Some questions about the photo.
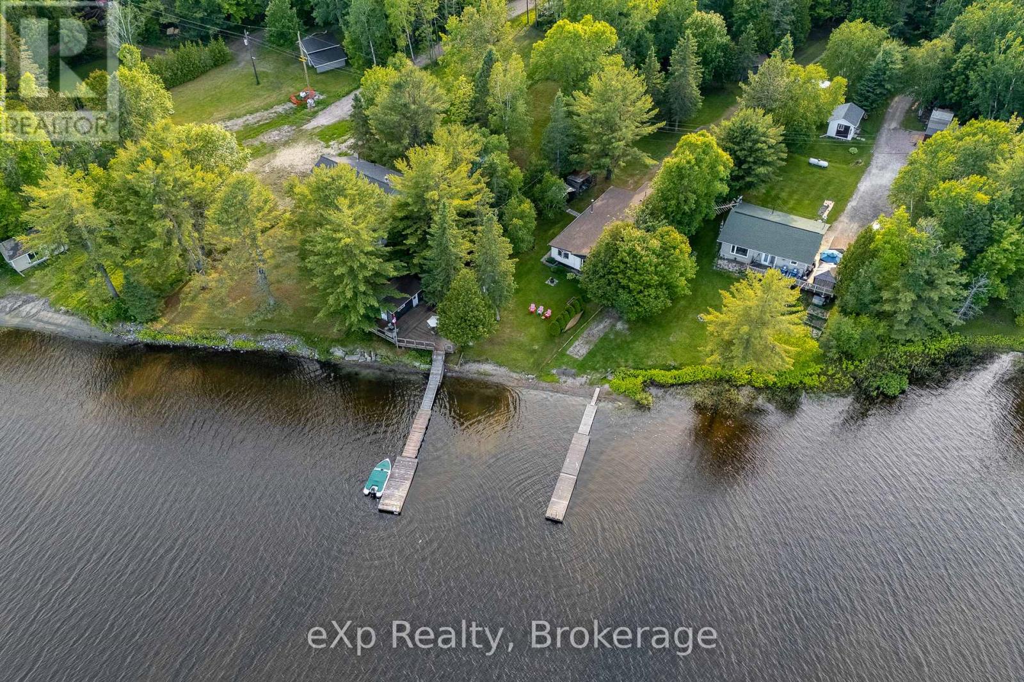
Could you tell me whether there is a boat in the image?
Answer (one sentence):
Yes, this view includes a boat.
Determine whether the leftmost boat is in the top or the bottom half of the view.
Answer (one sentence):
It is in the bottom half that the leftmost boat appears.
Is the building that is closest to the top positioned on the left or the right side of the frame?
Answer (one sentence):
It is on the left.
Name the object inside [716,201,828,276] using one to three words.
house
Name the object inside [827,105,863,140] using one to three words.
shed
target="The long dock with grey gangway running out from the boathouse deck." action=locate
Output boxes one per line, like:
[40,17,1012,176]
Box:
[379,353,446,515]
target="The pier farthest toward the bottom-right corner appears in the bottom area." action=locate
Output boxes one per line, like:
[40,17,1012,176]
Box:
[544,387,600,523]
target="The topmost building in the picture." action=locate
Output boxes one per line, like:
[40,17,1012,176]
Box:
[294,34,347,72]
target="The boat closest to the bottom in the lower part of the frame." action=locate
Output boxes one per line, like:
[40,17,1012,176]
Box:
[363,458,390,501]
